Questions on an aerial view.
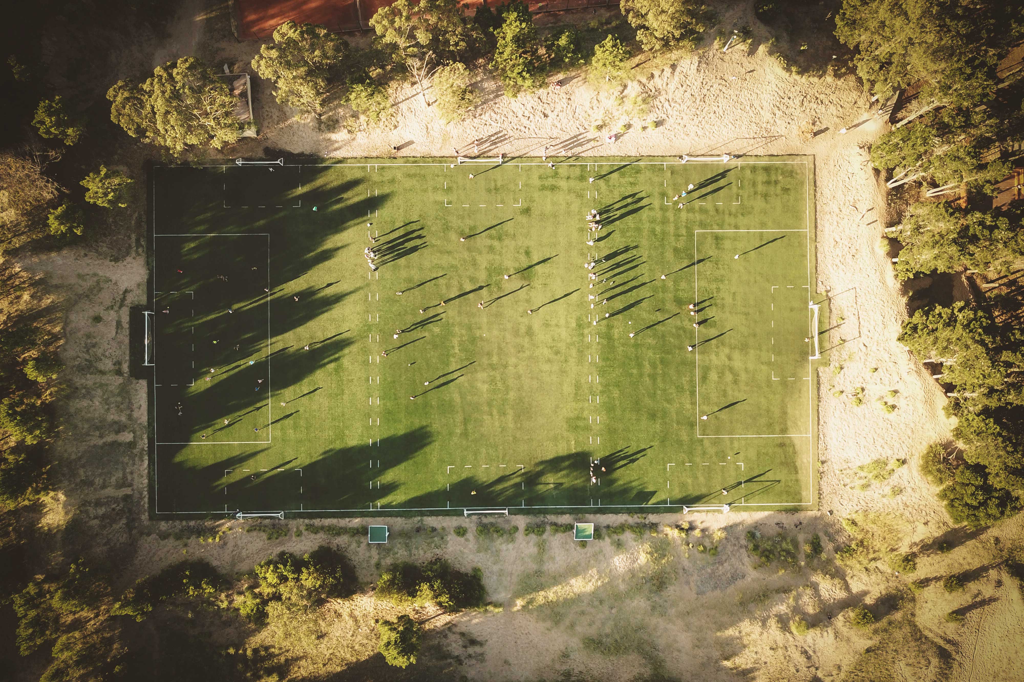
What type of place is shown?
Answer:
sports ground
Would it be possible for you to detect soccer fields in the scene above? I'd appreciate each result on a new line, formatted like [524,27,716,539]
[128,155,835,520]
